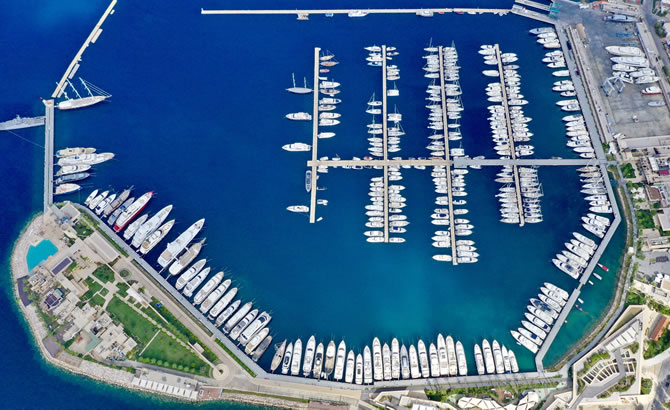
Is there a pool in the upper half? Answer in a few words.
No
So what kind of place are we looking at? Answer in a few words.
port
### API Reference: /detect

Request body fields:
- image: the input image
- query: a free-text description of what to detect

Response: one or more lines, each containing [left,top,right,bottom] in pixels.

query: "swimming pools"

[26,239,59,273]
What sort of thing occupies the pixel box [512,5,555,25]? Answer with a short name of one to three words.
pier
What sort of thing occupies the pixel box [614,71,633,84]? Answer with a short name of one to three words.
boat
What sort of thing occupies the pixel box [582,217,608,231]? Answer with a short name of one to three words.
boat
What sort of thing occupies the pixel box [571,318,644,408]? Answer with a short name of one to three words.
building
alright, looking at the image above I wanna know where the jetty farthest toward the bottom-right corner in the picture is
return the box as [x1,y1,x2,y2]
[534,288,581,371]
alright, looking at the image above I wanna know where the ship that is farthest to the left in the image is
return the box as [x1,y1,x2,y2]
[0,111,50,146]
